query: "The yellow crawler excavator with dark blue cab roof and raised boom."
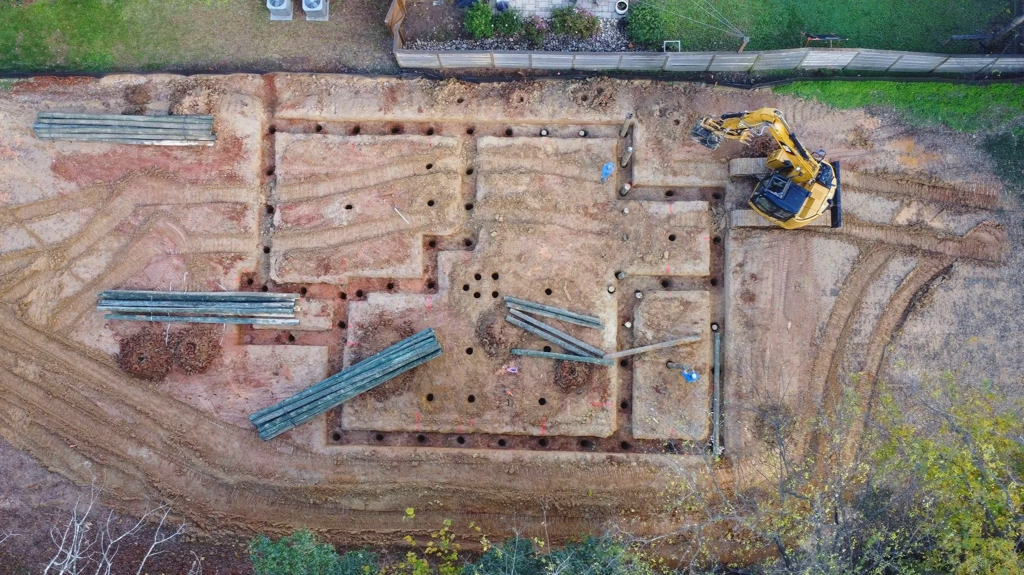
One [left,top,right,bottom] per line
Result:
[693,95,845,234]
